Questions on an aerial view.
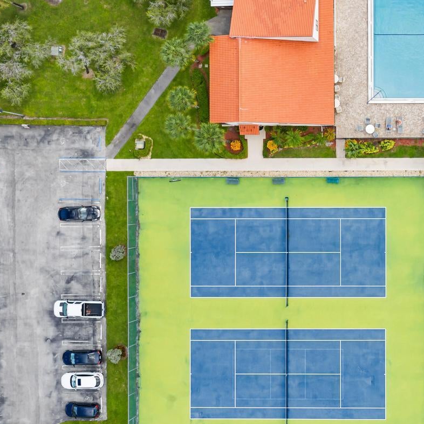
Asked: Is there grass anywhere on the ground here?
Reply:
Yes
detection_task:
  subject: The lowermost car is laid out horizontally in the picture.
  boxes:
[66,401,102,420]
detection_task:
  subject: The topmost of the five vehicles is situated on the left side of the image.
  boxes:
[58,204,104,222]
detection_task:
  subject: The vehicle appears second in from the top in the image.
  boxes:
[53,300,107,319]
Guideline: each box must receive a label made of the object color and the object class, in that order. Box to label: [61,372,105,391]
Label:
white car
